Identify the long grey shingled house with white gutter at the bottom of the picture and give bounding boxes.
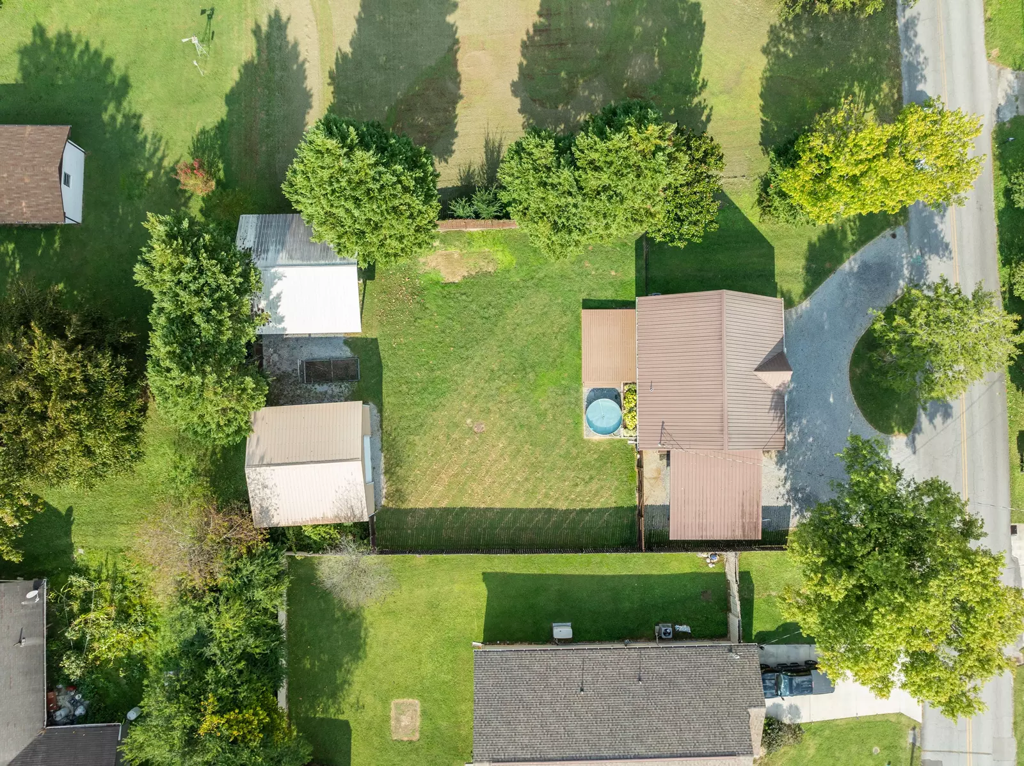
[470,629,770,766]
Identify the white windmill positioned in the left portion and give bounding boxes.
[179,29,213,60]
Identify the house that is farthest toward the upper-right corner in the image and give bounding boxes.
[632,290,794,450]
